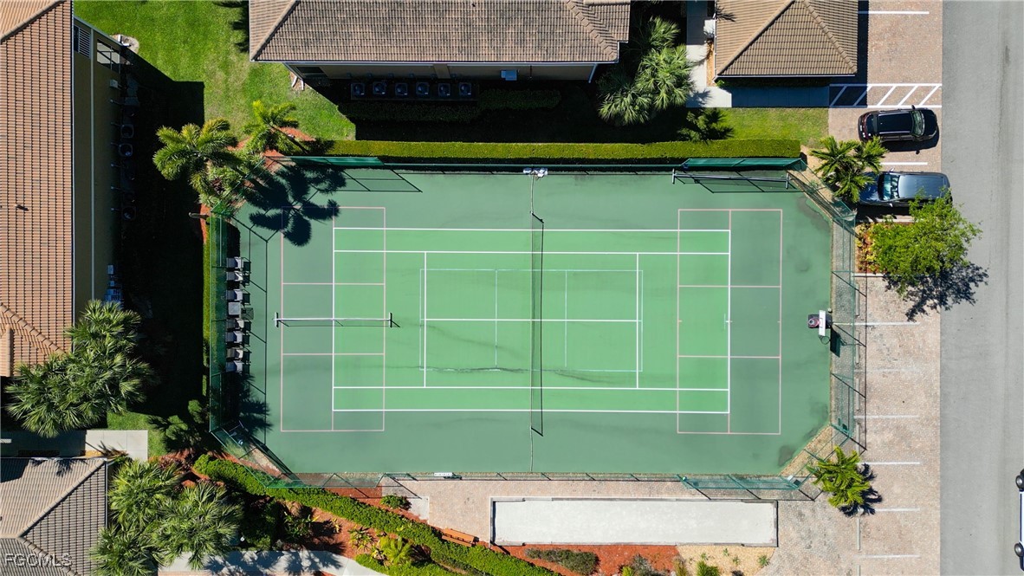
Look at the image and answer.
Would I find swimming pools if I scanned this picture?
No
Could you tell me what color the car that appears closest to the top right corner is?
black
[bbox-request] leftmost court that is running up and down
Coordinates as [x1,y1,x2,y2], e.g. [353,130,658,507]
[280,207,385,431]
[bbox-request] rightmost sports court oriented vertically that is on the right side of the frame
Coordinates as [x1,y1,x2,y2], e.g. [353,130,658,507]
[677,209,783,434]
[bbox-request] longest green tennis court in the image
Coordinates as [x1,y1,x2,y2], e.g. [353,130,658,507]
[227,166,832,475]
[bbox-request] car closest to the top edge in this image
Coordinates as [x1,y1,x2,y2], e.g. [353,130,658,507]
[853,105,936,146]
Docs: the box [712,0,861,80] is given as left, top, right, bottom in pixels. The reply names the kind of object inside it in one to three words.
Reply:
building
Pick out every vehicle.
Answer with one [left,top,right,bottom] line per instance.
[1014,470,1024,576]
[855,167,950,210]
[853,105,936,146]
